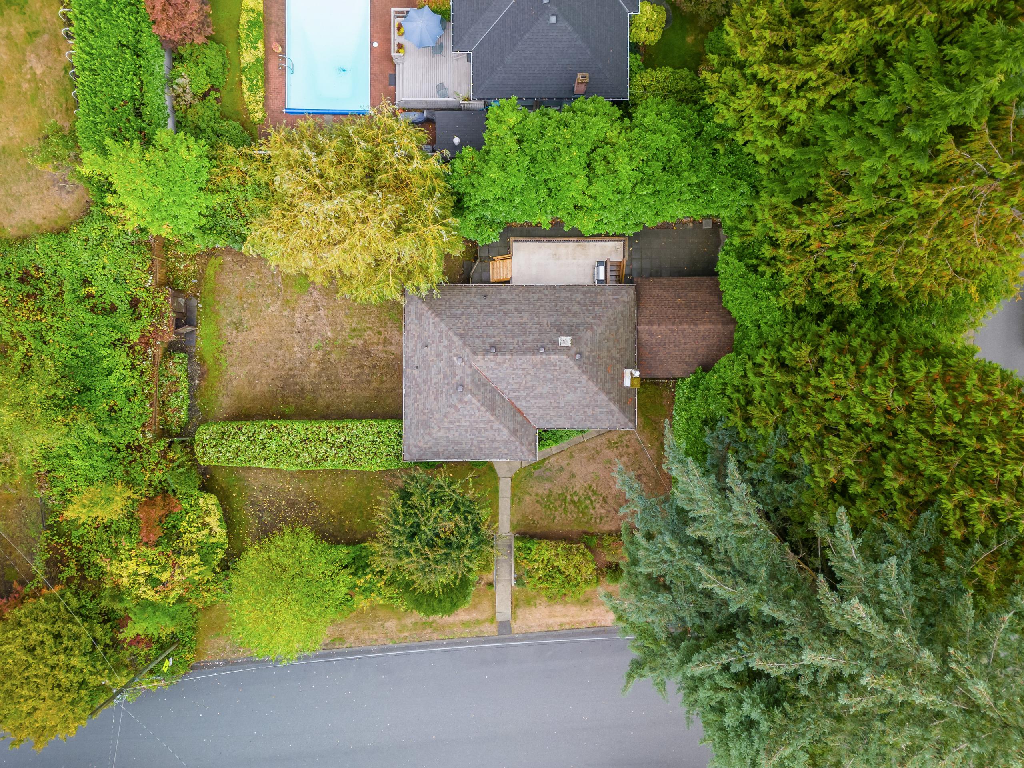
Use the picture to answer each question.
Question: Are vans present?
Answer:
No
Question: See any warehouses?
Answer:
No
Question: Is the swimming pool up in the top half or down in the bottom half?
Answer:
top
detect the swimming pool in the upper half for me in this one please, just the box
[284,0,371,115]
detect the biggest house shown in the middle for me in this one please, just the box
[404,284,641,461]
